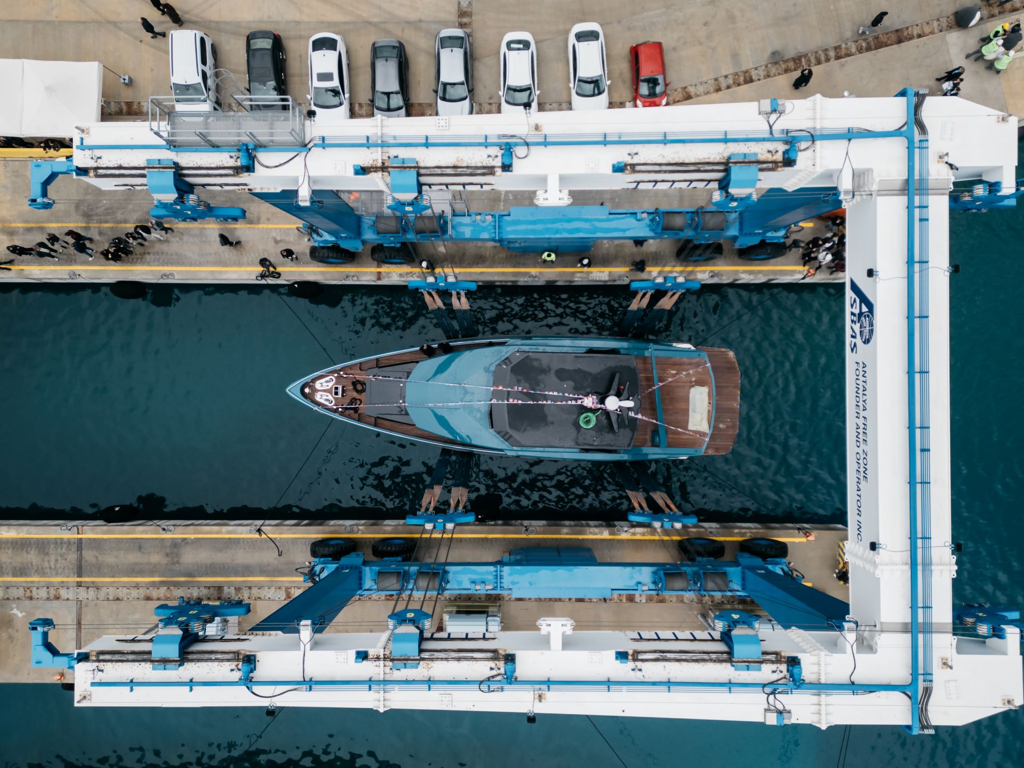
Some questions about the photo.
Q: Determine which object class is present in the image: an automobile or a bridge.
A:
automobile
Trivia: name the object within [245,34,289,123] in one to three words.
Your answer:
car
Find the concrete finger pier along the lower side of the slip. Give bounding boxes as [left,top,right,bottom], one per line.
[0,518,850,680]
